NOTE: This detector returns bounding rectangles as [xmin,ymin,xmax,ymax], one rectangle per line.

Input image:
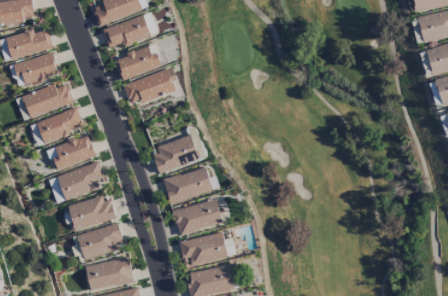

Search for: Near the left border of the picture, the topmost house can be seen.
[0,0,34,25]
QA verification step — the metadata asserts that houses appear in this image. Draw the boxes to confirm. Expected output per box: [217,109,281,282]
[104,12,159,48]
[96,0,149,26]
[124,70,184,104]
[116,43,160,79]
[0,0,34,25]
[414,11,448,44]
[64,196,115,230]
[0,30,51,62]
[414,0,448,10]
[50,164,104,204]
[9,53,58,86]
[182,233,236,266]
[46,138,94,170]
[429,78,448,108]
[420,46,448,78]
[165,166,220,202]
[175,198,229,235]
[73,223,124,264]
[154,135,199,171]
[188,265,234,296]
[15,84,72,121]
[85,258,134,292]
[30,110,83,147]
